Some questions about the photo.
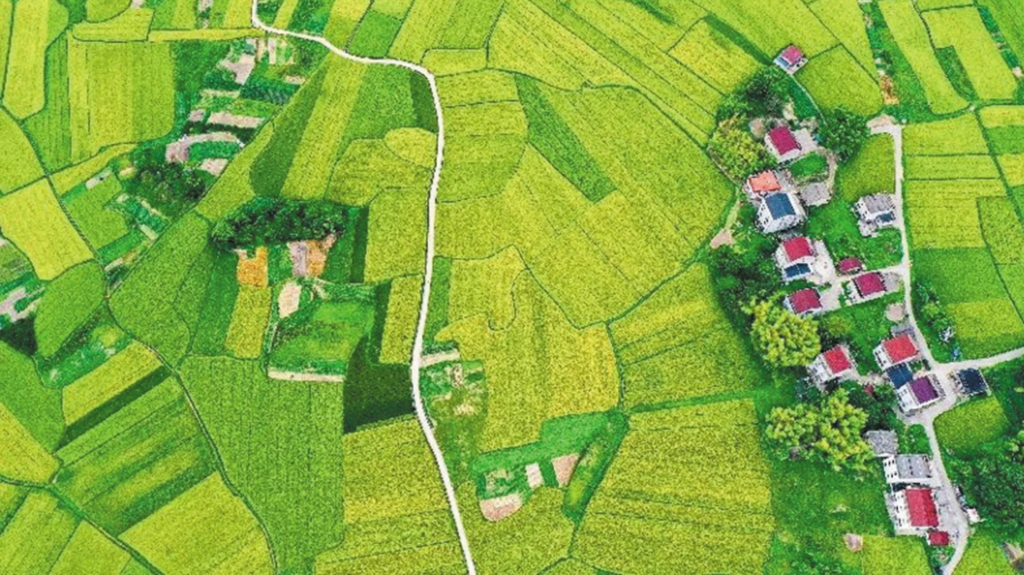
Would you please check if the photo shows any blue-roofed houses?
Yes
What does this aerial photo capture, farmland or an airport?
farmland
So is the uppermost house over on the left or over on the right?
right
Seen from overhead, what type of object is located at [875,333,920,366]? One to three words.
house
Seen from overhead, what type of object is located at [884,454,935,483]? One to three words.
house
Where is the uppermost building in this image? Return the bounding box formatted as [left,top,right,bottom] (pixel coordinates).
[774,46,810,75]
